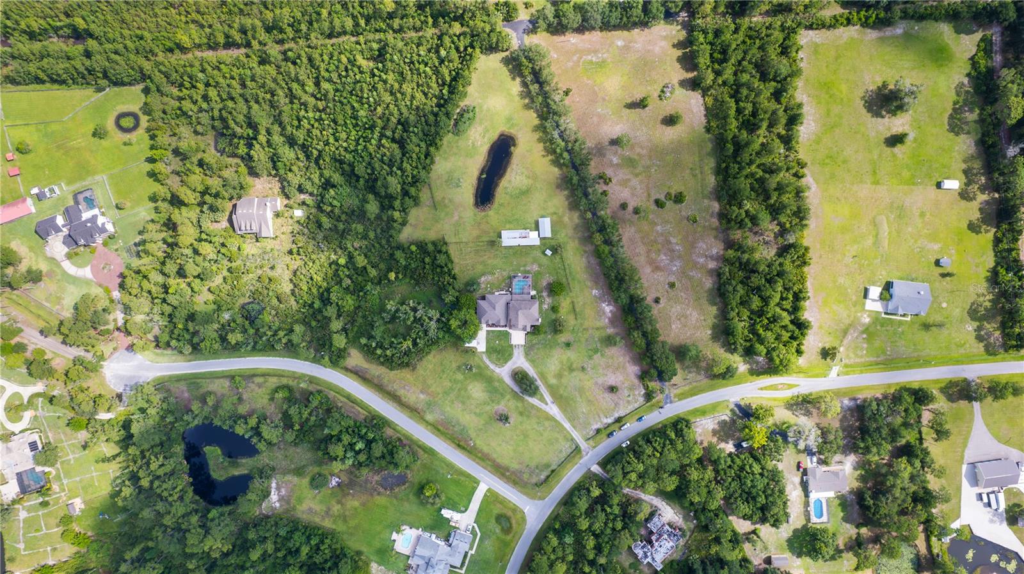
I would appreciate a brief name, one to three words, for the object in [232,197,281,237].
house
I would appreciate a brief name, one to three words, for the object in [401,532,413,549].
swimming pool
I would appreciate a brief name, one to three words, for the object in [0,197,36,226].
barn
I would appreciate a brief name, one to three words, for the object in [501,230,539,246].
building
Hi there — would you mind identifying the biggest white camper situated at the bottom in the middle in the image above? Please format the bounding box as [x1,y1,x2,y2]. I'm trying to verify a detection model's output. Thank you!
[440,510,460,524]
